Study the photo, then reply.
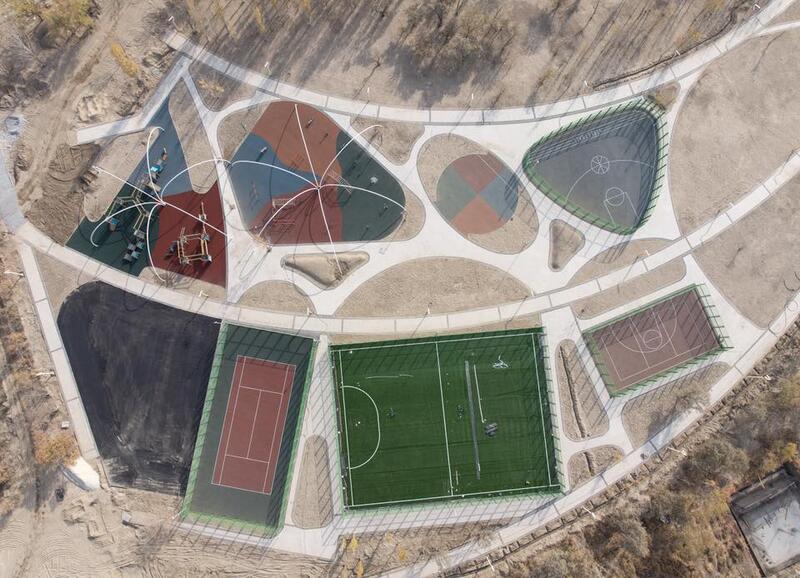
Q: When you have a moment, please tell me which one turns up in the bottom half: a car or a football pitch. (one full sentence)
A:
The one visible in the bottom half is a football pitch.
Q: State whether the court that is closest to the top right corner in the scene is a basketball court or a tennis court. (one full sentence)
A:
What you see as the court that is closest to the top right corner is a basketball court.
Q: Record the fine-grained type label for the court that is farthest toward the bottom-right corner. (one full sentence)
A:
I'd say the court that is farthest toward the bottom-right corner is a basketball court.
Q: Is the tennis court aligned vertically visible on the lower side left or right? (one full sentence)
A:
You can find the tennis court aligned vertically visible on the lower side on the left side of the picture.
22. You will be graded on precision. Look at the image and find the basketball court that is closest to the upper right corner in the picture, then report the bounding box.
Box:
[523,108,659,234]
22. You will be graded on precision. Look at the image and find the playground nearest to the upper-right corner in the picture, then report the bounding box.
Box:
[438,154,518,234]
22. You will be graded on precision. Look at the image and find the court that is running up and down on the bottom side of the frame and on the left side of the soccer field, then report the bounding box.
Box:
[191,324,317,527]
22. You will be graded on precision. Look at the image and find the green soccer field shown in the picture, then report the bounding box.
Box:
[330,326,561,509]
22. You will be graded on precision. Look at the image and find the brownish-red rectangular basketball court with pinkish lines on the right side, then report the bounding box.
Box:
[583,286,719,394]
